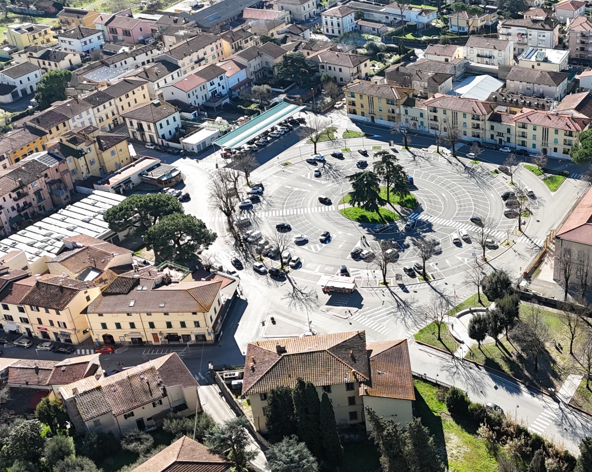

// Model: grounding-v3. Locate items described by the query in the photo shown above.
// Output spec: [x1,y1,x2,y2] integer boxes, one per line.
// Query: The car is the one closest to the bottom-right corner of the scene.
[487,401,505,416]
